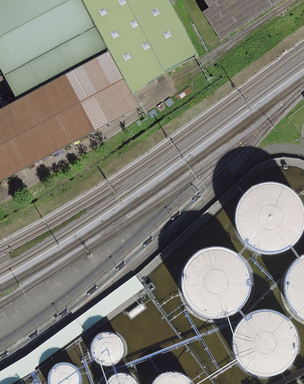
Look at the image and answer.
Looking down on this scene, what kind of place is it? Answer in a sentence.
What you see here is an industrial area.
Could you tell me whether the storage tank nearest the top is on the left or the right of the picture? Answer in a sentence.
It is on the right.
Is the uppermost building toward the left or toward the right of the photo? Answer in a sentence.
The uppermost building appears in the right half of the scene.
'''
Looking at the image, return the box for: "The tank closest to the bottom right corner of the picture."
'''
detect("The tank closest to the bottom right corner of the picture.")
[232,308,304,380]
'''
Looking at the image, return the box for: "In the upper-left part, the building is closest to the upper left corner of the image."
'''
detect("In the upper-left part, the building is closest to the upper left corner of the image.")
[0,0,108,98]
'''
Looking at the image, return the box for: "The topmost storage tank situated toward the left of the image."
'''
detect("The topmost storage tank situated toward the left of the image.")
[89,330,128,368]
